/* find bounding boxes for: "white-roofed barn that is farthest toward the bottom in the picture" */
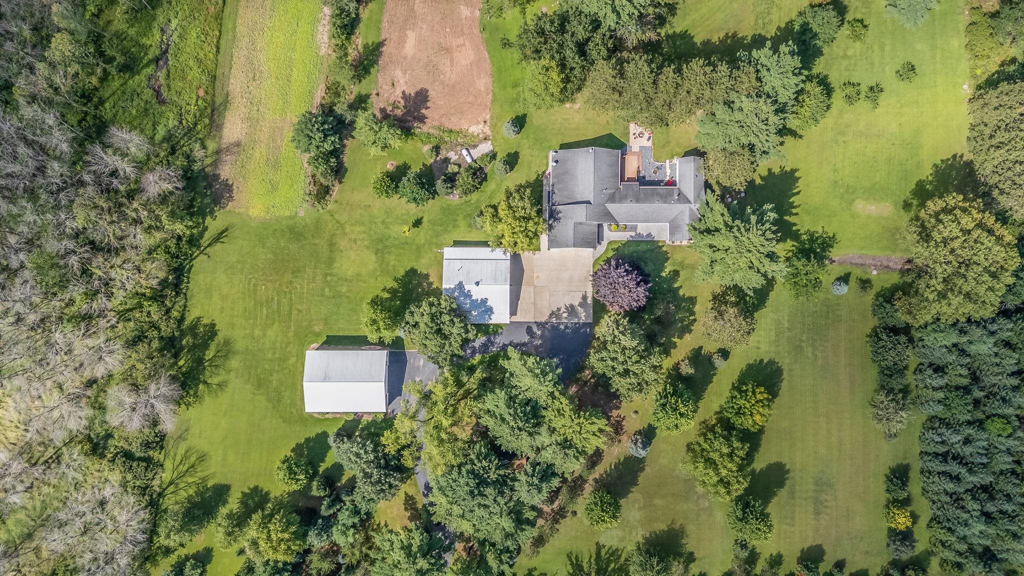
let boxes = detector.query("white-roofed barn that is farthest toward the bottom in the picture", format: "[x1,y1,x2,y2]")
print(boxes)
[302,349,391,412]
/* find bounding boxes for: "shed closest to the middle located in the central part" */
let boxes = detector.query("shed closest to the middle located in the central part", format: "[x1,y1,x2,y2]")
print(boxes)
[439,248,511,323]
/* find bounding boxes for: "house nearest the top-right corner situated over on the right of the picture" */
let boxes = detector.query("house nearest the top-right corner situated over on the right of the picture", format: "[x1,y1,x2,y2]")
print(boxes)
[547,147,704,248]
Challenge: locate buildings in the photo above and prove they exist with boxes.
[302,349,391,412]
[439,248,511,323]
[547,147,704,248]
